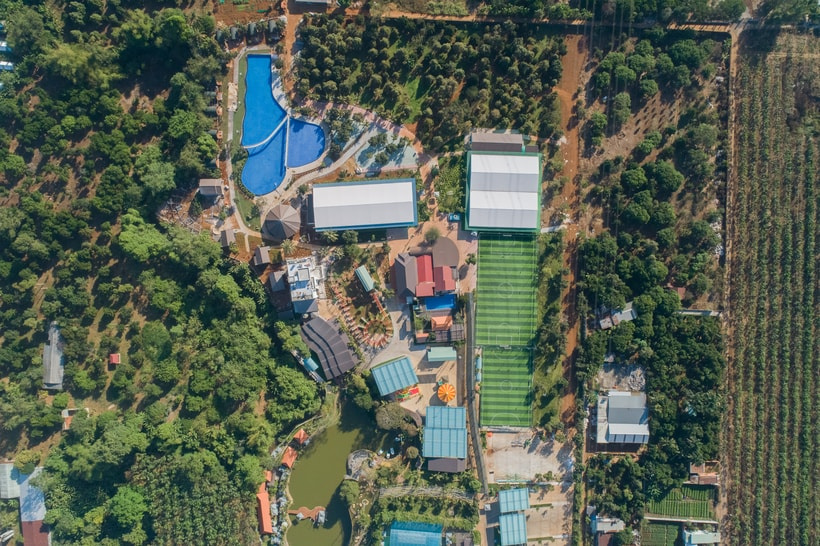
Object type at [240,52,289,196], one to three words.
swimming pool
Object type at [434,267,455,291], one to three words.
house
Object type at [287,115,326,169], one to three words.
swimming pool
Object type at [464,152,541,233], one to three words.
building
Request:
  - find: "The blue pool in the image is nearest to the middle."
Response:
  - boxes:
[424,292,456,311]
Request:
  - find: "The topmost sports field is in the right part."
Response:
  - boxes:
[476,231,537,347]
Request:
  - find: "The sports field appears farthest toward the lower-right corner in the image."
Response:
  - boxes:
[480,343,533,430]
